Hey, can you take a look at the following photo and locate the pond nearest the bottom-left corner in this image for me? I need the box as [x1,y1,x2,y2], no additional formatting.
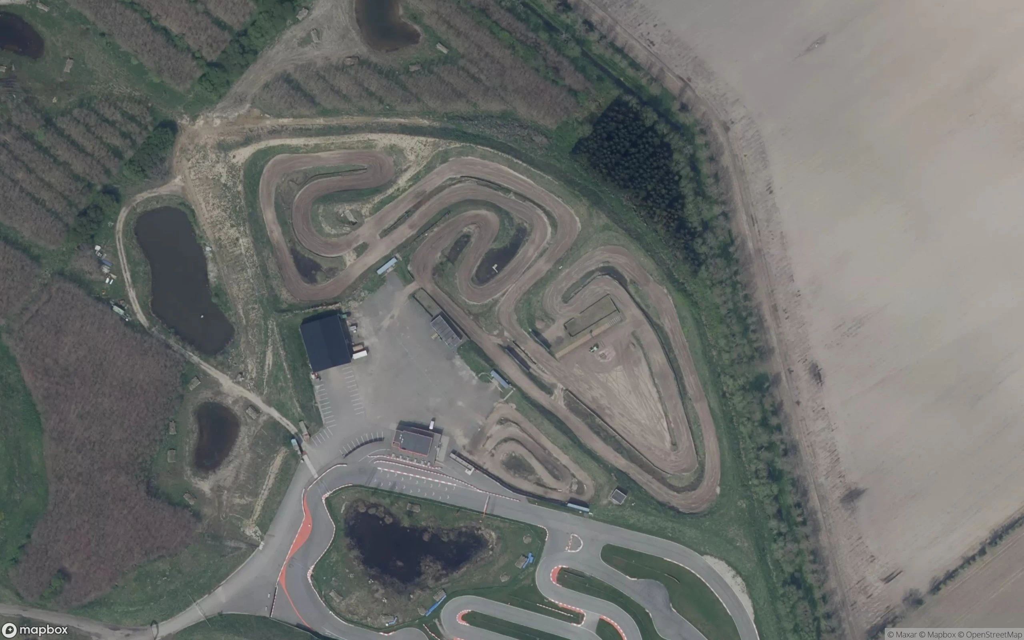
[195,402,241,471]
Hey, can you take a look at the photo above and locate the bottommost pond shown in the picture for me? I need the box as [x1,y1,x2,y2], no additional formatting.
[346,514,486,583]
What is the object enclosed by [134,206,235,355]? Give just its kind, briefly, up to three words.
pond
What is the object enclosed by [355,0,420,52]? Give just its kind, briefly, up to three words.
pond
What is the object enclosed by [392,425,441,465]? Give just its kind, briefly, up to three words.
building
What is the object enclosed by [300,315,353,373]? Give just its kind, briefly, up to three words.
barn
